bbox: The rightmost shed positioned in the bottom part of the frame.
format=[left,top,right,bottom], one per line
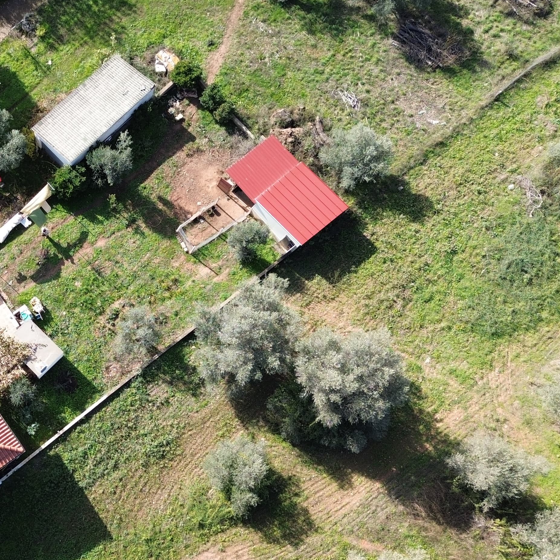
[15,321,63,379]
